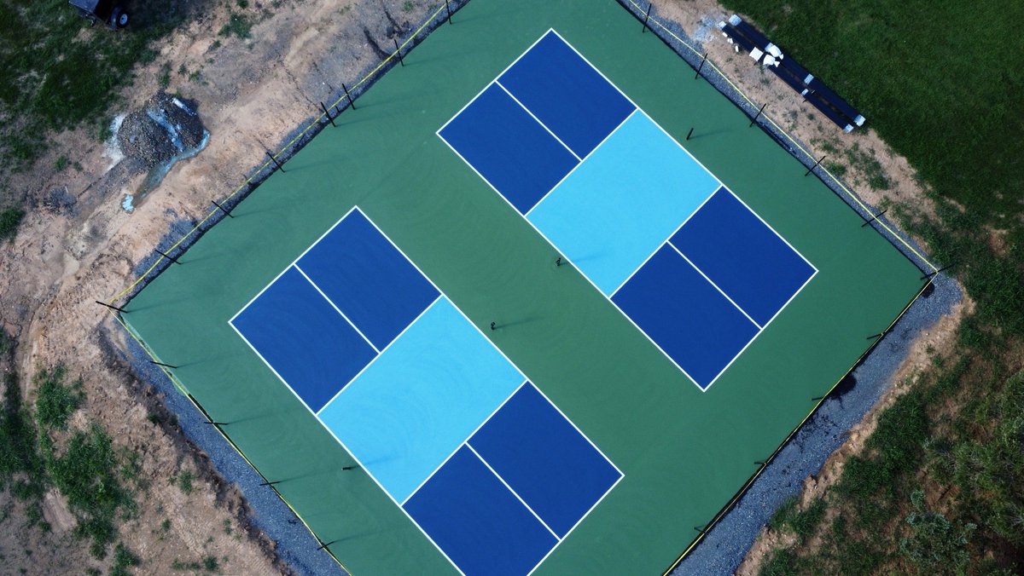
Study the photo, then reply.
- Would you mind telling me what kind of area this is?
sports ground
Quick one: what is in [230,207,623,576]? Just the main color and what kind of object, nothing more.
blue sports court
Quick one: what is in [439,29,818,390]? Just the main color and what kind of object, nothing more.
blue sports court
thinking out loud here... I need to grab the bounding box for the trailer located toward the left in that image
[67,0,126,28]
